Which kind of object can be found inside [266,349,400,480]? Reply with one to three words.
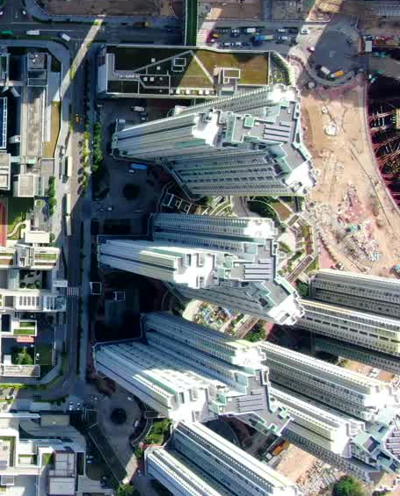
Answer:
building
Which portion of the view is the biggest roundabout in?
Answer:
top right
